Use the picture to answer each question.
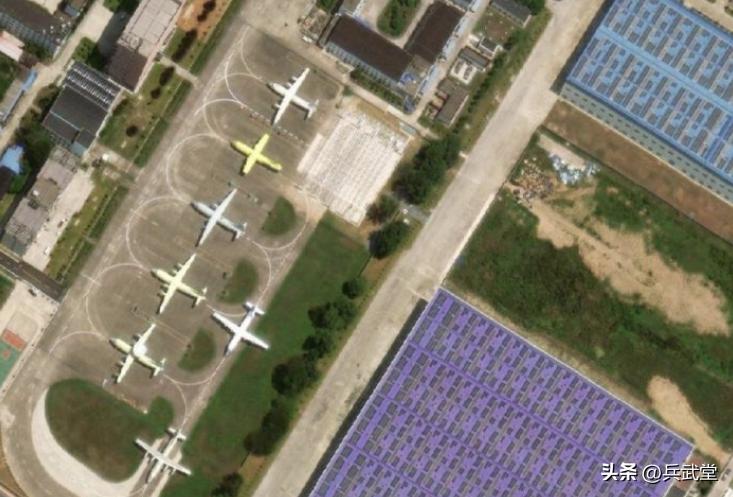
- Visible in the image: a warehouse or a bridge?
warehouse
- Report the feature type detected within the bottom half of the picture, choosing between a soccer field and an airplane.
airplane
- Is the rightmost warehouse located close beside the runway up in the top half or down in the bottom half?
top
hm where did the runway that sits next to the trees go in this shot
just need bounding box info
[253,0,616,497]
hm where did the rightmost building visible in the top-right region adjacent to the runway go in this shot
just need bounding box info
[560,0,733,204]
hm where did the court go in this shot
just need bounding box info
[0,329,27,389]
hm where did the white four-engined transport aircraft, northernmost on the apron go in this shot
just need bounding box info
[268,66,321,124]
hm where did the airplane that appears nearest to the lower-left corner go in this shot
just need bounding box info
[137,428,190,483]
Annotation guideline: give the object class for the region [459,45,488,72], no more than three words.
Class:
shed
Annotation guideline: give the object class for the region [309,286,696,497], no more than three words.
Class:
warehouse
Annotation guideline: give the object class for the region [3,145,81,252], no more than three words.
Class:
building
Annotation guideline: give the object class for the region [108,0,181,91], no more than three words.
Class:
building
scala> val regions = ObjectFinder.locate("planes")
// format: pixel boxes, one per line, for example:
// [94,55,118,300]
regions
[212,302,269,355]
[191,187,248,246]
[137,428,190,483]
[110,323,166,382]
[152,252,208,312]
[233,132,282,173]
[268,66,321,124]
